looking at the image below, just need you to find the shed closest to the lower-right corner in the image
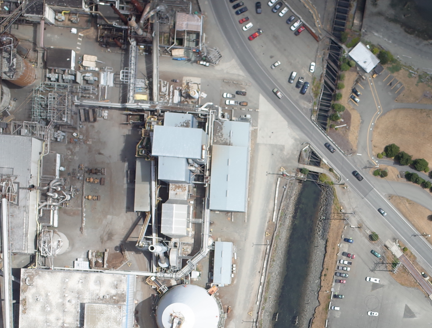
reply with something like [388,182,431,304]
[214,242,235,284]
